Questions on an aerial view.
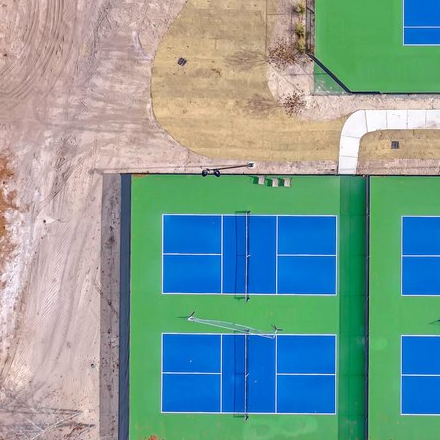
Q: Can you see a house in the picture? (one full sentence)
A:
No, no house is visible in the scene.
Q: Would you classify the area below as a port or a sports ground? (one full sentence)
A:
The area seen from above is a sports ground.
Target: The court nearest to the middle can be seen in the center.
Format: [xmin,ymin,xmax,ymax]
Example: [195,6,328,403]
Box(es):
[130,175,364,314]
